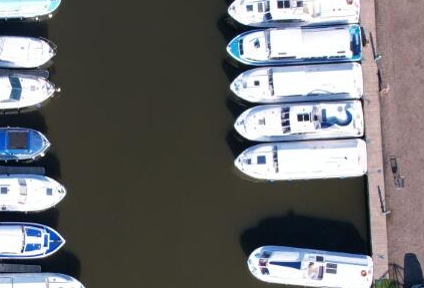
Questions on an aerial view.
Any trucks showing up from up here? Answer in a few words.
No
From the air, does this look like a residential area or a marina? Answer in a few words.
marina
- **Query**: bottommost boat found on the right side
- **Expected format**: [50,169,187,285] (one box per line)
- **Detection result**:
[248,246,375,288]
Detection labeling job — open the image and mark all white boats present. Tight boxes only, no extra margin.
[228,0,360,28]
[227,25,363,67]
[0,223,65,259]
[248,246,375,288]
[0,36,59,69]
[230,63,362,104]
[0,274,84,288]
[235,104,365,143]
[0,74,61,112]
[0,174,66,214]
[235,141,367,182]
